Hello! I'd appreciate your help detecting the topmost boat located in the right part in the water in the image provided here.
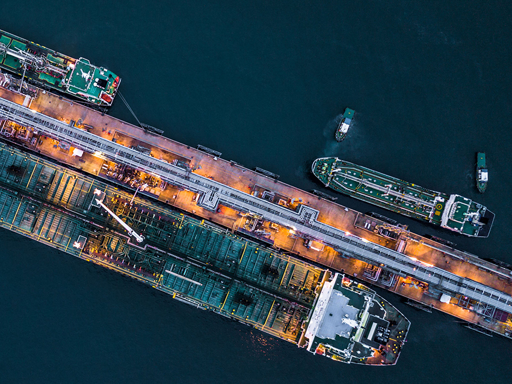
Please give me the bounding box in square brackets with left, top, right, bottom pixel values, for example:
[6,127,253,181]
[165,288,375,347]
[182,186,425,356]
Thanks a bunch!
[337,107,355,142]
